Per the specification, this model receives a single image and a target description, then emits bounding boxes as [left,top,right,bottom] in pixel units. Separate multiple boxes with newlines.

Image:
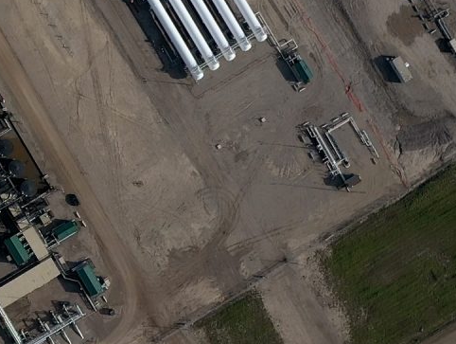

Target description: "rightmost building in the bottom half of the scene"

[71,261,105,296]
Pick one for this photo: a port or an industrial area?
industrial area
